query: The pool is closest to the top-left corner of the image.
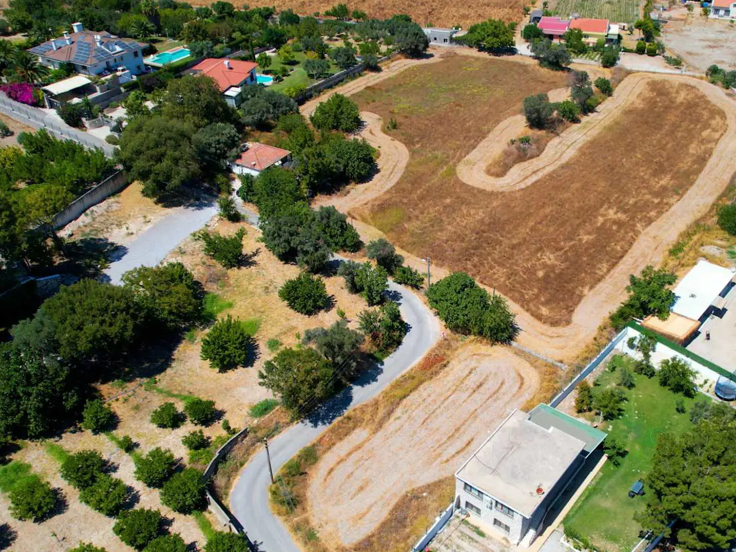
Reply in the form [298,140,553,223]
[149,47,192,68]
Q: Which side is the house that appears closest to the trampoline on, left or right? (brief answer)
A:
right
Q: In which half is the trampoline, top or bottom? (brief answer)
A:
bottom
